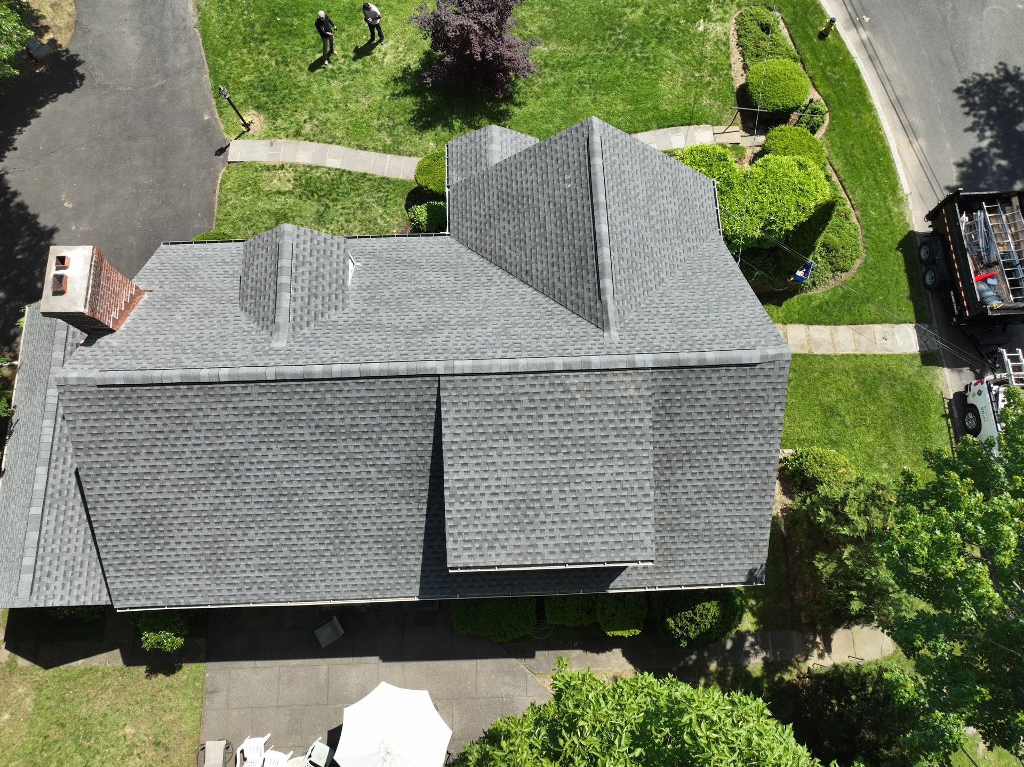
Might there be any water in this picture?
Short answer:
No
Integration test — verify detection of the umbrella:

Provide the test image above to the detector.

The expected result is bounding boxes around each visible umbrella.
[329,677,455,767]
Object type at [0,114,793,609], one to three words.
house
